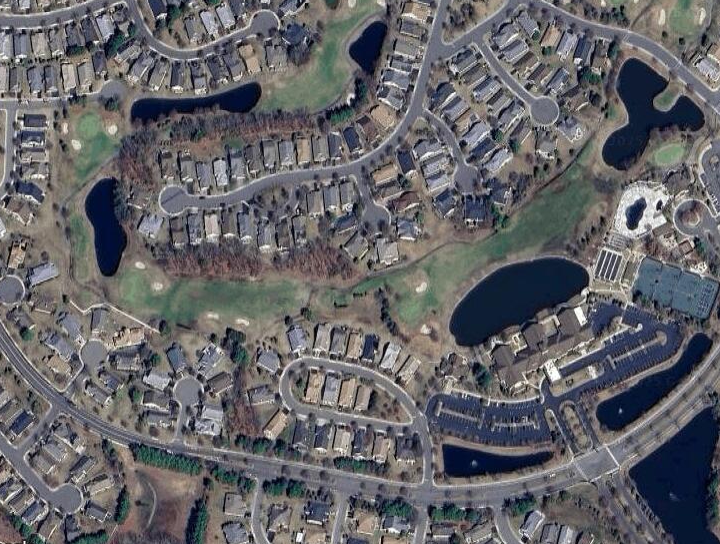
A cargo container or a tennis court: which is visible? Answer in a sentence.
I can see a tennis court in this picture.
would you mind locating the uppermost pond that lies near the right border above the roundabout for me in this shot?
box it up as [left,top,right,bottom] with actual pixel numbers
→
[603,59,704,171]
